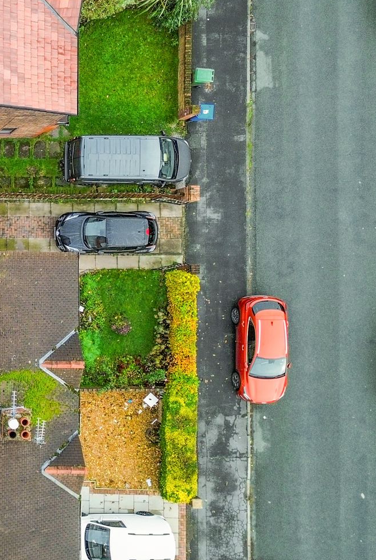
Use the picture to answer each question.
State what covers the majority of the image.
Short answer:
paved ground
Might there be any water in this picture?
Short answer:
No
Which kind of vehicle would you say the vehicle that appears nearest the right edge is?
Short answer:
automobile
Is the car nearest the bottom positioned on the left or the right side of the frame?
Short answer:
left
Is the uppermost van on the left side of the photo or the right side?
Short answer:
left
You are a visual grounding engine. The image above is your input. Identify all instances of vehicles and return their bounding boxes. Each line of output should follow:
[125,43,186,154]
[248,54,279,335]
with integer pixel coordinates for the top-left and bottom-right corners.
[82,507,173,560]
[51,204,162,258]
[61,129,192,192]
[229,295,295,403]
